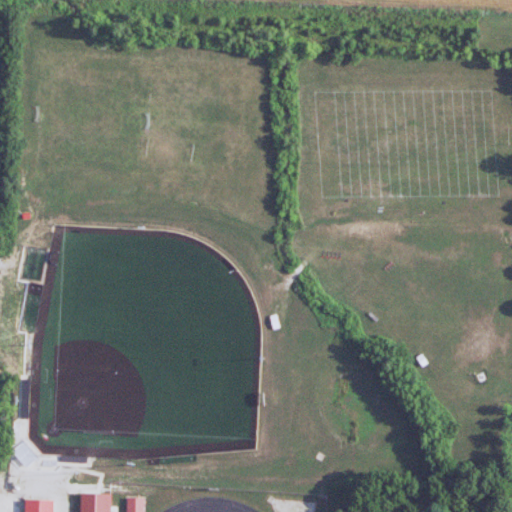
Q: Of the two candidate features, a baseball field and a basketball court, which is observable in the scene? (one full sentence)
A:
The one in the frame is a baseball field.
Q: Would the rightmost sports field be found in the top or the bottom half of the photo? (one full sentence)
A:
The top half of the photo is where the rightmost sports field is.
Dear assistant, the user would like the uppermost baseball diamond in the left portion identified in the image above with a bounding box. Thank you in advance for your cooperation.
[30,227,261,458]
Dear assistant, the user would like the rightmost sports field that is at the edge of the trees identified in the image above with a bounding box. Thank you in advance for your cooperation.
[314,88,510,200]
